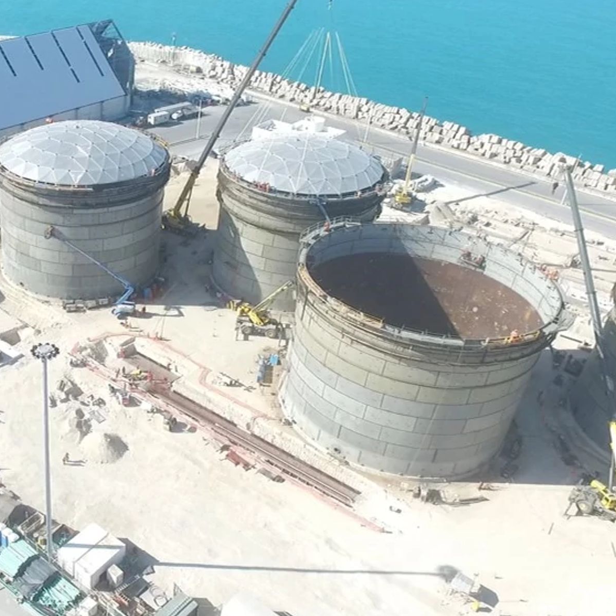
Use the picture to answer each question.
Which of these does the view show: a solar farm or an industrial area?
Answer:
industrial area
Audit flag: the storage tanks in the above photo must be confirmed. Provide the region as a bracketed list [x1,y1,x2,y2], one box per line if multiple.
[277,217,583,483]
[0,118,173,304]
[207,130,390,317]
[560,261,616,462]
